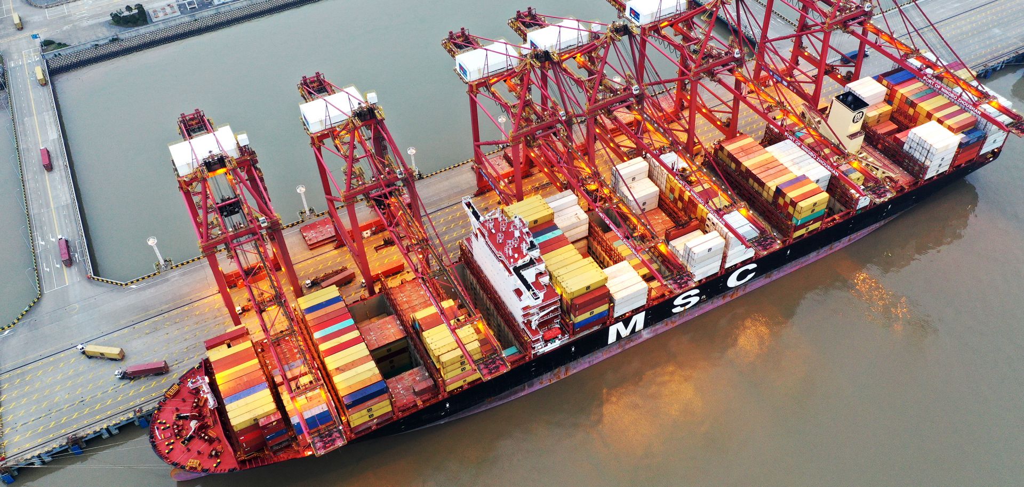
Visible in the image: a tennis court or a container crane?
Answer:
container crane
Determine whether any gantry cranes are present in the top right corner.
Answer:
Yes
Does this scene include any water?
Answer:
Yes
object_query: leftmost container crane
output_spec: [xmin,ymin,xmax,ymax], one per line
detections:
[166,110,354,463]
